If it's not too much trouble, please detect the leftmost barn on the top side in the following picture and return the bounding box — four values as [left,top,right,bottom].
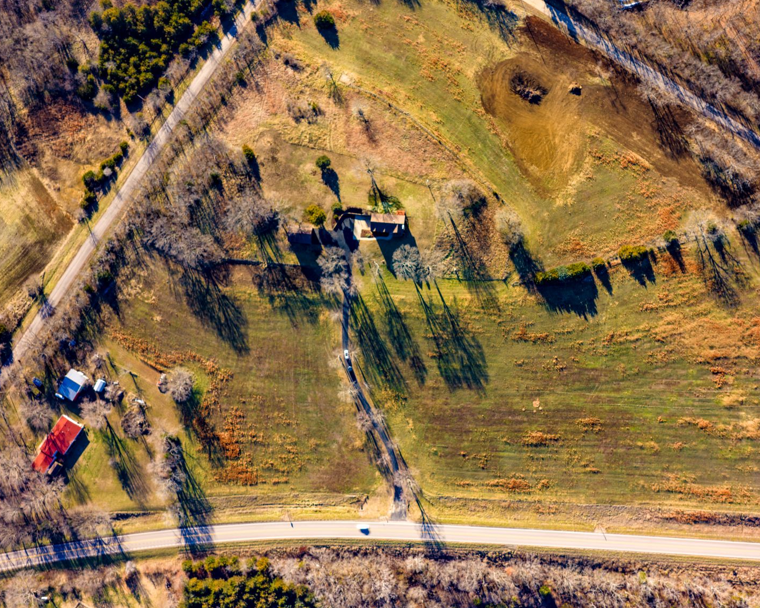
[285,223,321,245]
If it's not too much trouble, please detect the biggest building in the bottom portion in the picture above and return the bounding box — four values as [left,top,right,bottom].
[34,413,88,472]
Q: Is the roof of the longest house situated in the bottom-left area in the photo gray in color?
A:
No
